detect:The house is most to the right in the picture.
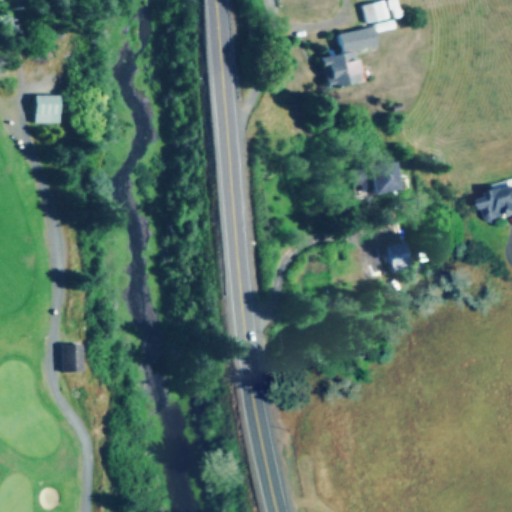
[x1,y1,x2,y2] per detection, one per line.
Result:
[474,178,512,224]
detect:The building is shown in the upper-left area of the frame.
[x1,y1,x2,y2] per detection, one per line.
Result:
[34,95,62,124]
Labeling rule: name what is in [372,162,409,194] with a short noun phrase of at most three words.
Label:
house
